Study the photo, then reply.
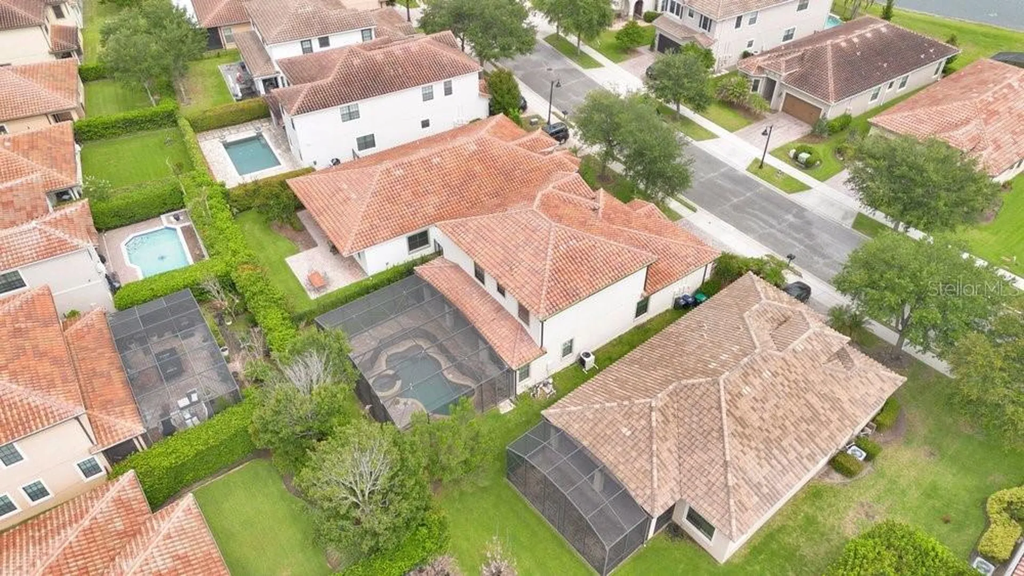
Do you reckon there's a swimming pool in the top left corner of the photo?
Yes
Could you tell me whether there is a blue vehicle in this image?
No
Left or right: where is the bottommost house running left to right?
left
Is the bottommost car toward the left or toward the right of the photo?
right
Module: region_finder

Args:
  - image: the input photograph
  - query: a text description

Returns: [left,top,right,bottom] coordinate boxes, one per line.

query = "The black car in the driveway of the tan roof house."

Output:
[781,280,820,308]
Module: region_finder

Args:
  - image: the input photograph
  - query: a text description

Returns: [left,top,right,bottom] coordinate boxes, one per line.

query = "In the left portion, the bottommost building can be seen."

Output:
[0,469,231,576]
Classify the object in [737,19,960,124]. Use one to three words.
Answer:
house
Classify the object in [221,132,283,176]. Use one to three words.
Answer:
swimming pool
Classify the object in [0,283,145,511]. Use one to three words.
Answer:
house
